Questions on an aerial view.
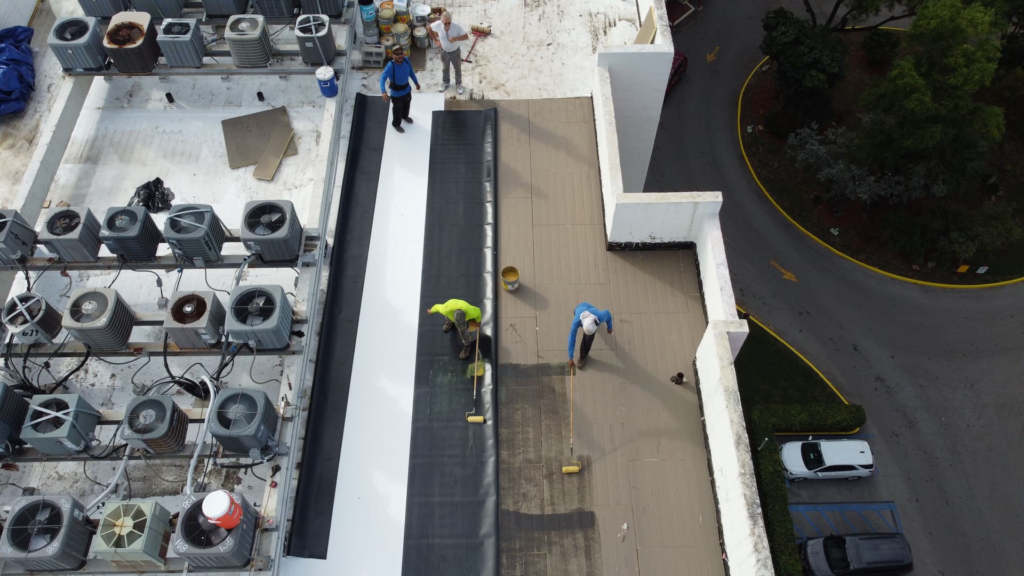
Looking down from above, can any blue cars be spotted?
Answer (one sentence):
No, there is no blue car in the image.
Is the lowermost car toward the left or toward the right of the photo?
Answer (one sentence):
The lowermost car sits on the right side.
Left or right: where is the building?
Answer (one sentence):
The building appears in the right half of the scene.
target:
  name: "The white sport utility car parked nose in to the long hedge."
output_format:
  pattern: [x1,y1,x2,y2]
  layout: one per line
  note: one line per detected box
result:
[780,435,878,485]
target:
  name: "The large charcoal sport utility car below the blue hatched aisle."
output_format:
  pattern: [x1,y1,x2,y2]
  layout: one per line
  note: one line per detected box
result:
[800,524,920,576]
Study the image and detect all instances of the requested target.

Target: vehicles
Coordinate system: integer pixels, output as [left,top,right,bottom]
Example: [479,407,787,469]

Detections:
[780,435,878,485]
[662,56,689,110]
[800,524,920,576]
